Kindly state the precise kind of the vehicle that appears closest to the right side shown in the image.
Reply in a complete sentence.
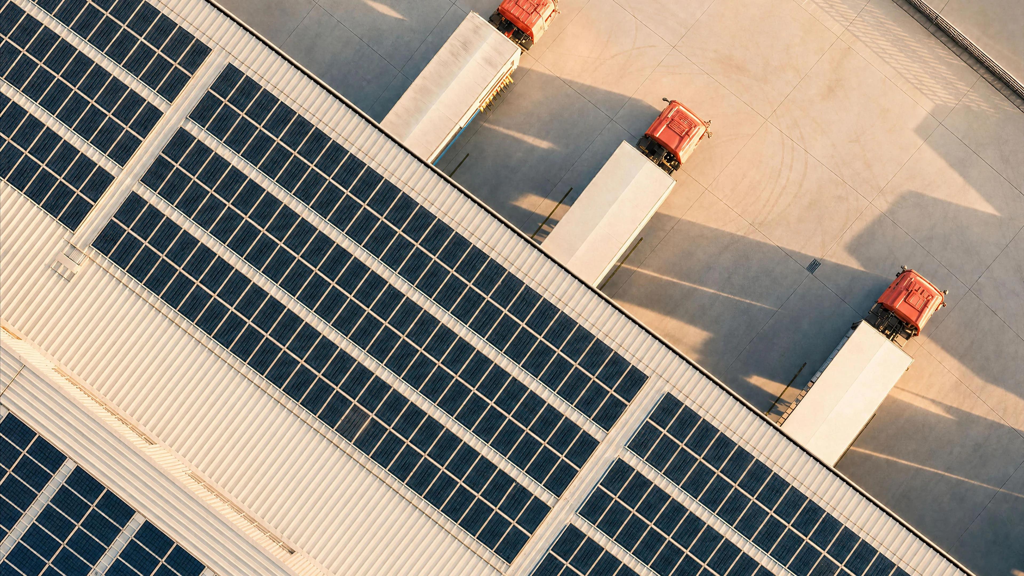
Specifically, the vehicle that appears closest to the right side is a truck.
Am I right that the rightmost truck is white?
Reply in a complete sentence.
No, the color of the rightmost truck is red.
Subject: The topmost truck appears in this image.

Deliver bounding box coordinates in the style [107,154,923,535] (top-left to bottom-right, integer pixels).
[486,0,568,66]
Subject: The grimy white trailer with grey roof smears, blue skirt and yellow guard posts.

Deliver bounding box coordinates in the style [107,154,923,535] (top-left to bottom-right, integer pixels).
[381,9,525,171]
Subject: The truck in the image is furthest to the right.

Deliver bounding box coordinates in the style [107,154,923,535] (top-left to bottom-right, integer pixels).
[859,259,955,353]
